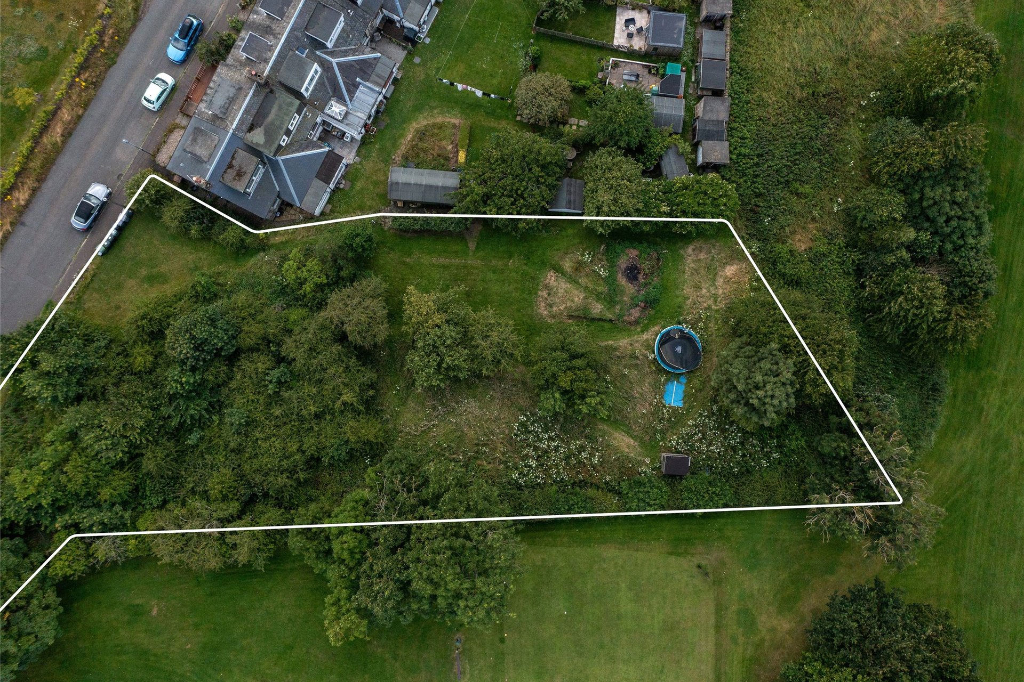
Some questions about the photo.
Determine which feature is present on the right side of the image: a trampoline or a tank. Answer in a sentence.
There is a trampoline on the right side of the image.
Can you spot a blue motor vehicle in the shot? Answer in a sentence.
Yes, a blue motor vehicle can be made out from above.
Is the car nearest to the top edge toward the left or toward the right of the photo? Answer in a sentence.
The car nearest to the top edge sits on the left side.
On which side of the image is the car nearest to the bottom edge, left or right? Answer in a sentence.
It is on the left.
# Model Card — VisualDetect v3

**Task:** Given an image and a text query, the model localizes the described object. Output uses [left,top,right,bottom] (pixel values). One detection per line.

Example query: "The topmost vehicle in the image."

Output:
[168,14,206,65]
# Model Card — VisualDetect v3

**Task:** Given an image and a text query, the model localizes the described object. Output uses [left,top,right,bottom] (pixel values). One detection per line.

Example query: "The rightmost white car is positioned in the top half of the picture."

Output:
[142,72,177,114]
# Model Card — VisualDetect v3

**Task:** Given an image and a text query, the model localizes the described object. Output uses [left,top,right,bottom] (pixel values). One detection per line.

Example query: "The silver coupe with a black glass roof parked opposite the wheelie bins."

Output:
[72,181,113,234]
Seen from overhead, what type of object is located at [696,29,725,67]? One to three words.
shed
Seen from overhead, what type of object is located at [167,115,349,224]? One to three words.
house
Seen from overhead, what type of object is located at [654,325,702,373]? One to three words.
trampoline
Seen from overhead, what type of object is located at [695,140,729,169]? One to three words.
shed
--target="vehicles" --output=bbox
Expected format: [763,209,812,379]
[142,72,177,114]
[168,14,206,65]
[72,181,113,234]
